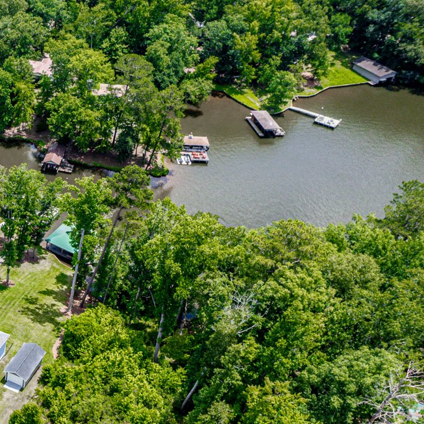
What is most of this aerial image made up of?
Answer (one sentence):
What you mostly see from above here is trees.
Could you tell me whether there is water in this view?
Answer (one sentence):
Yes, there is water in the image.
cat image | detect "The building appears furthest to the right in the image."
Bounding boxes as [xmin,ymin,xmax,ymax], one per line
[353,54,412,86]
